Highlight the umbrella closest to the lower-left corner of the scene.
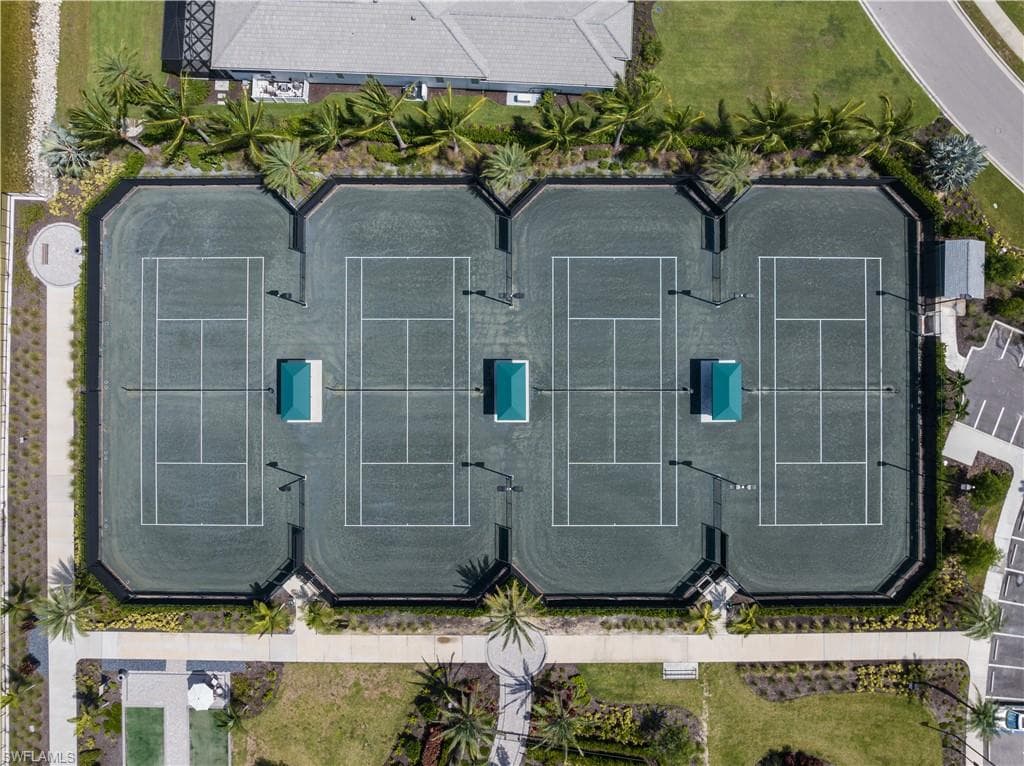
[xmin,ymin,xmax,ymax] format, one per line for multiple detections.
[189,682,214,707]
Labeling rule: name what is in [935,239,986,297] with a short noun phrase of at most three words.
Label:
shed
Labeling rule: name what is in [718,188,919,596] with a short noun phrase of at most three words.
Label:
tennis court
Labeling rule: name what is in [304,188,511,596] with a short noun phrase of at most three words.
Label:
tennis court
